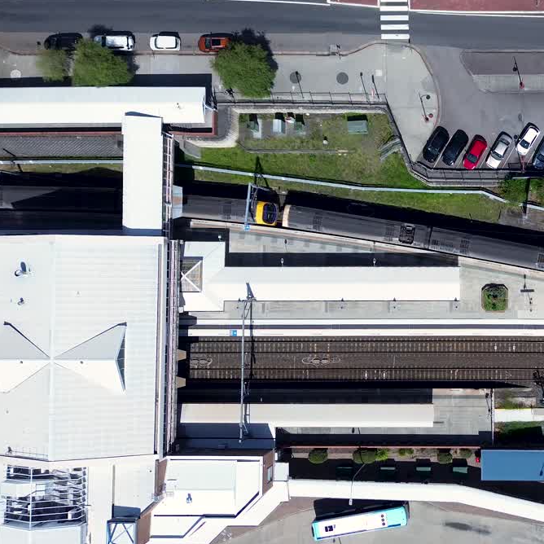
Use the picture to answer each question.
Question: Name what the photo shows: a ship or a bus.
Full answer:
Of the two, only a bus appears.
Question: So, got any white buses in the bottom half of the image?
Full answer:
Yes, looking in the bottom half of the image, one can make out a white bus.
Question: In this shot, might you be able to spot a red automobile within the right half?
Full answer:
Yes, you'll find a red automobile within the right half.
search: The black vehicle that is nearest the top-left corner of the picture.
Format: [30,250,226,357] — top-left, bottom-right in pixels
[47,33,83,51]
